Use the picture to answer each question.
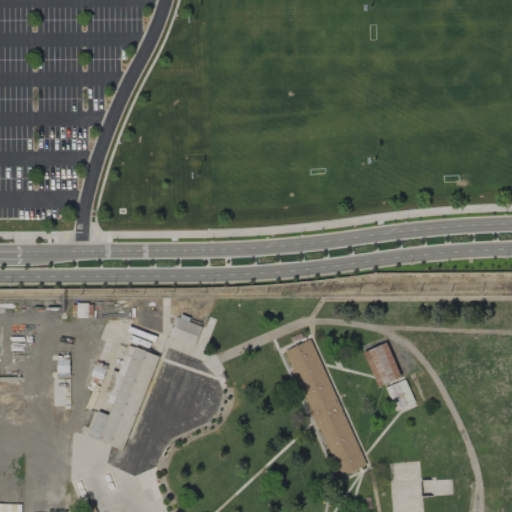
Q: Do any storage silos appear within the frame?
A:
No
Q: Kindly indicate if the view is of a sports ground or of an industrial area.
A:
sports ground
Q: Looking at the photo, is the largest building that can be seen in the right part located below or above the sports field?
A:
below it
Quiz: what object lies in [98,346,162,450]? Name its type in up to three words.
building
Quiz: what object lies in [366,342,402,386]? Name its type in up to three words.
barn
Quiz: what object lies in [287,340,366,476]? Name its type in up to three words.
building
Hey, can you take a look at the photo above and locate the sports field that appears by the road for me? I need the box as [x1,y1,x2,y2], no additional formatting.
[98,0,512,231]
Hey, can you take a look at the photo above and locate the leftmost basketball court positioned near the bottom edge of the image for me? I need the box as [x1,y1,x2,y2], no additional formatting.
[390,462,424,512]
